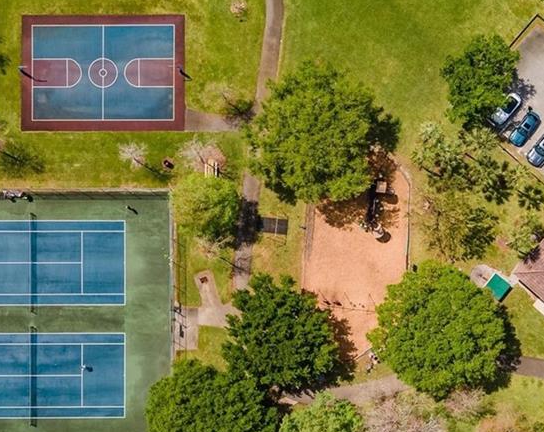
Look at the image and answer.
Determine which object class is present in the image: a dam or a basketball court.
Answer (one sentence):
I can see a basketball court in this picture.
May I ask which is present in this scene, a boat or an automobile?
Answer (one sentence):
Of the two, only an automobile appears.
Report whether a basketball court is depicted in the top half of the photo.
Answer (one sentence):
Yes, there is a basketball court in the top half of the photo.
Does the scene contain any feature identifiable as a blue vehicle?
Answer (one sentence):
Yes, you can see a blue vehicle in this photo.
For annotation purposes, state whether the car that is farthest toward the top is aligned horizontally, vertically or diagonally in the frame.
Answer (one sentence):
In this picture, the car that is farthest toward the top lies diagonally.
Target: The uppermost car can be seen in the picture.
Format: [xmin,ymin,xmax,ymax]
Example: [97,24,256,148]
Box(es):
[489,91,523,128]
